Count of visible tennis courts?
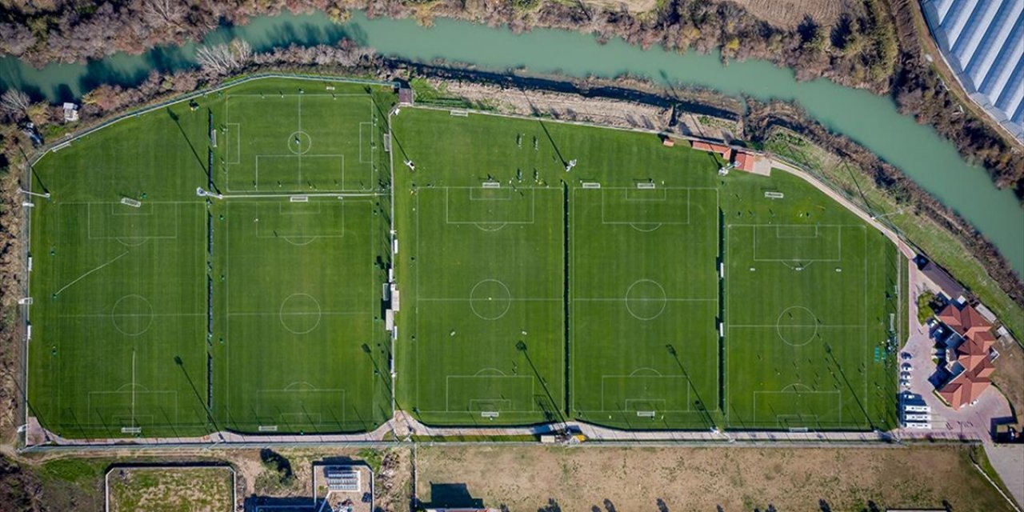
zero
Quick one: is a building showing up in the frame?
Yes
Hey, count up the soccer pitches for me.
6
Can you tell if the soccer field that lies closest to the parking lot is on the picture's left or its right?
right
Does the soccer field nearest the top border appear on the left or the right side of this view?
left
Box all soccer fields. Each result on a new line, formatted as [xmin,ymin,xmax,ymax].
[57,200,208,429]
[225,198,375,428]
[415,185,565,414]
[726,223,868,429]
[571,185,720,414]
[225,92,375,194]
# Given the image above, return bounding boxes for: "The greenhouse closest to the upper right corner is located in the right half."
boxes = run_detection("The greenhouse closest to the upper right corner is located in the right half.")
[922,0,1024,138]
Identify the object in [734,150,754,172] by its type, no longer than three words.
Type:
shed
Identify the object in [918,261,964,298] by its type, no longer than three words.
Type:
shed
